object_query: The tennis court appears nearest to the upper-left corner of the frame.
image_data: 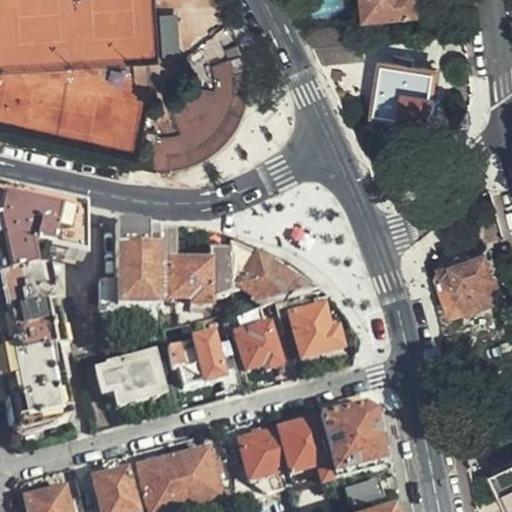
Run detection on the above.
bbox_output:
[0,0,76,70]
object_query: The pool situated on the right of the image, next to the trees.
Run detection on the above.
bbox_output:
[312,0,346,20]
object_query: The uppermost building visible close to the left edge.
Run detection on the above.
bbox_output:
[7,189,92,266]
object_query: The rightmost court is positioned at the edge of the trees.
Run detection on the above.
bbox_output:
[76,0,156,66]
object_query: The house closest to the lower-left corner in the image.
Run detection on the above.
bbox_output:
[22,483,78,512]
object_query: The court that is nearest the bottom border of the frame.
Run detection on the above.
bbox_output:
[0,68,143,153]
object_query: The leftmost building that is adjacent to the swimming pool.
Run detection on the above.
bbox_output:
[310,28,366,68]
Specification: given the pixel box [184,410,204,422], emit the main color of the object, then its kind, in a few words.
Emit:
white vehicle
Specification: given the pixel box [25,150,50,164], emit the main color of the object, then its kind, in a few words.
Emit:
white car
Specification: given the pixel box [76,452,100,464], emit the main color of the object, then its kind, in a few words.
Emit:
white vehicle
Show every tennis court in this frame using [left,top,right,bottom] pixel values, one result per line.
[0,68,143,153]
[76,0,156,66]
[0,0,76,70]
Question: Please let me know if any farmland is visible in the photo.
No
